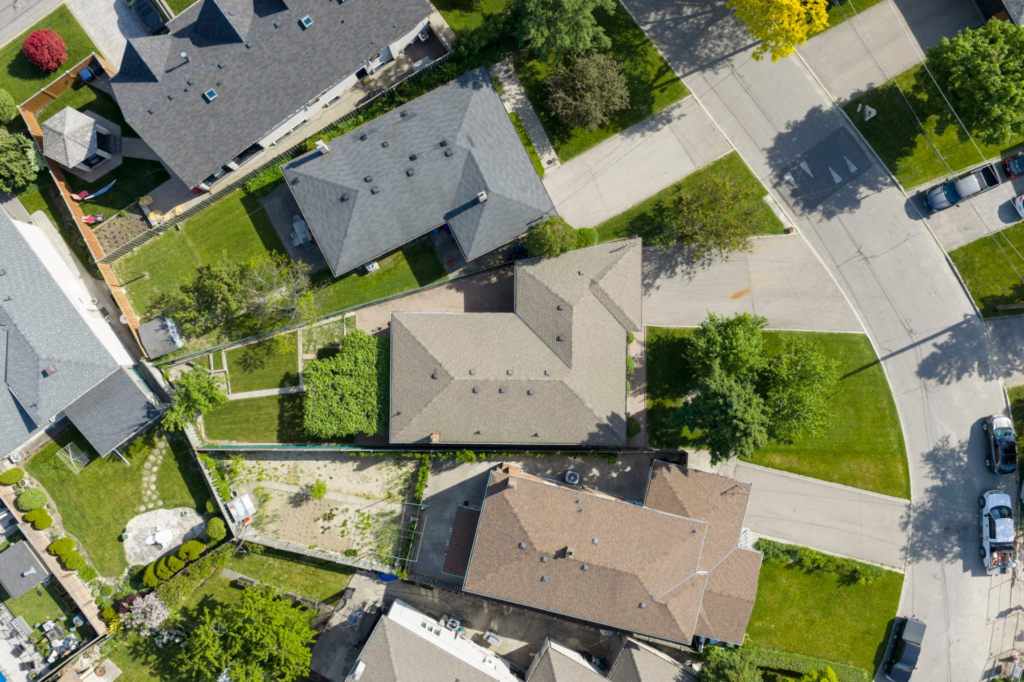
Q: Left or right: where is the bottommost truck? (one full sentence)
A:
The bottommost truck appears in the right half of the scene.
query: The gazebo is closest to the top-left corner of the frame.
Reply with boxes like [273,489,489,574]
[41,105,121,173]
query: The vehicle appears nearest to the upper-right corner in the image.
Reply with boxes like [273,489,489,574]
[997,149,1024,181]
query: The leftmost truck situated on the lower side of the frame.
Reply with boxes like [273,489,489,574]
[872,608,926,682]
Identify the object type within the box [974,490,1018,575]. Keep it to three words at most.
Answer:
truck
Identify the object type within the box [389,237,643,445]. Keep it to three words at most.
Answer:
house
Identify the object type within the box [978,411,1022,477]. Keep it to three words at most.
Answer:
car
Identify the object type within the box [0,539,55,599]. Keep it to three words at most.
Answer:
shed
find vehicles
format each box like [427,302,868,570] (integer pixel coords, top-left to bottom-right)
[974,490,1018,575]
[1003,191,1024,220]
[918,161,1004,213]
[130,0,179,35]
[872,608,926,682]
[997,149,1024,181]
[978,411,1022,477]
